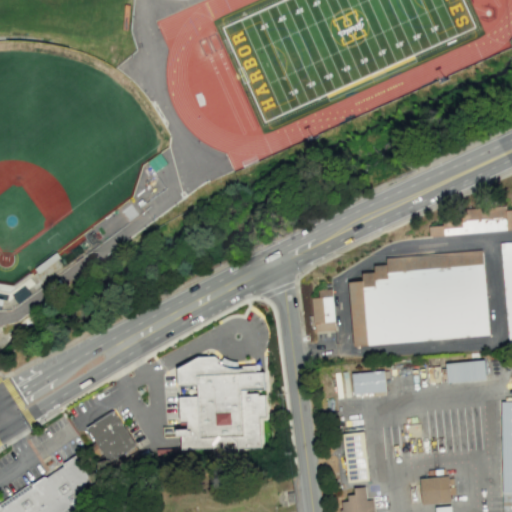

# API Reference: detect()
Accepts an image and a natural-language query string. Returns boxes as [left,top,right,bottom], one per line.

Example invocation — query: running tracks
[158,0,512,170]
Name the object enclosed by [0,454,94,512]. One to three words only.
building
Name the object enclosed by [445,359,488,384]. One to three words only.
shed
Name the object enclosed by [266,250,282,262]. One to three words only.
vehicle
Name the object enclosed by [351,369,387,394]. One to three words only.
shed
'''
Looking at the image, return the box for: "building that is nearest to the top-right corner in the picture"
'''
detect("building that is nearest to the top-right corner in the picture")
[428,206,512,238]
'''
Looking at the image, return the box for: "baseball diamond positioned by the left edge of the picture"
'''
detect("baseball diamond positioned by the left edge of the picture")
[0,40,171,281]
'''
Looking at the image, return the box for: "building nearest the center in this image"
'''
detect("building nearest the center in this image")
[312,289,338,334]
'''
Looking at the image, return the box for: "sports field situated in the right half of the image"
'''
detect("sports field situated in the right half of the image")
[214,0,485,134]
